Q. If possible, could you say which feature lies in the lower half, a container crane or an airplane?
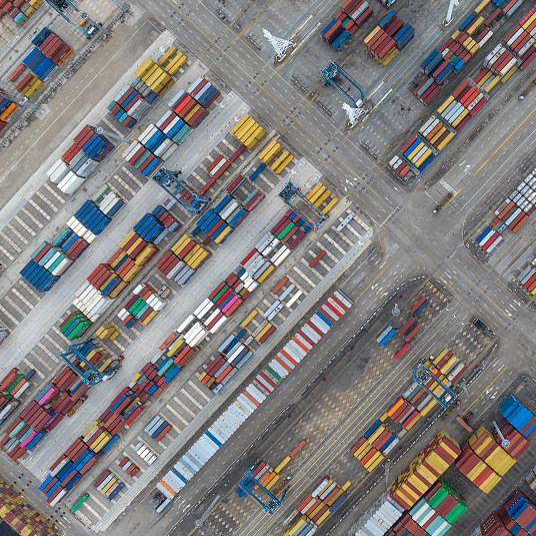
container crane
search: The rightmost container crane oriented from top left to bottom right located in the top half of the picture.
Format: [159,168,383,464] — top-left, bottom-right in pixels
[320,62,366,109]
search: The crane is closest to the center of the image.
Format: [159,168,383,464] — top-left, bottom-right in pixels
[279,181,331,230]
